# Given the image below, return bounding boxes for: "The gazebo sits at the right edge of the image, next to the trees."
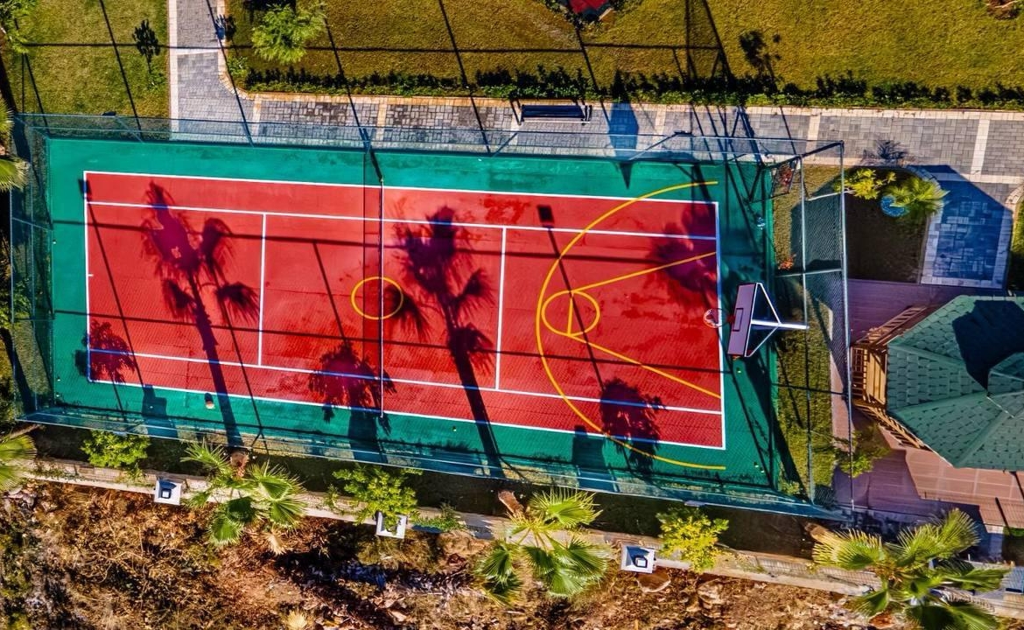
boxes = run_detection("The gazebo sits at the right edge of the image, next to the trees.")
[842,292,1024,475]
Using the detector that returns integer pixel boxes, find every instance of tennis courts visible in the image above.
[49,141,779,490]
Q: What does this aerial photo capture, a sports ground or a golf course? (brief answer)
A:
sports ground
